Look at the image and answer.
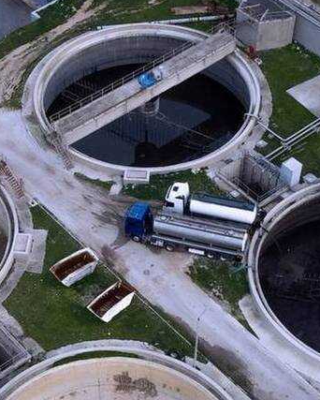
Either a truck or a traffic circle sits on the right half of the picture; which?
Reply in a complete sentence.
Looking on the right half of the picture, you will find a truck.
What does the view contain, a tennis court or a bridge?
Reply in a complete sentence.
There is a bridge in the scene.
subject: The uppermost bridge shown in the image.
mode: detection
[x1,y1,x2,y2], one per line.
[37,23,243,149]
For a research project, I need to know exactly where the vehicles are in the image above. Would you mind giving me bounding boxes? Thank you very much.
[121,203,245,261]
[160,186,257,236]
